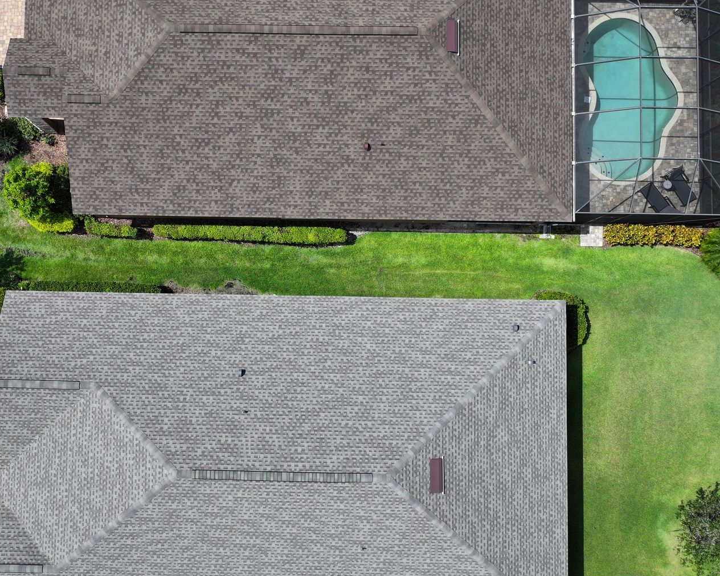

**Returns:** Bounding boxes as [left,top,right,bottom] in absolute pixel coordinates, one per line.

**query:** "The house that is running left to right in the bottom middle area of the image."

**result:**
[0,291,568,576]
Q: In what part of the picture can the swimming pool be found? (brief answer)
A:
top right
